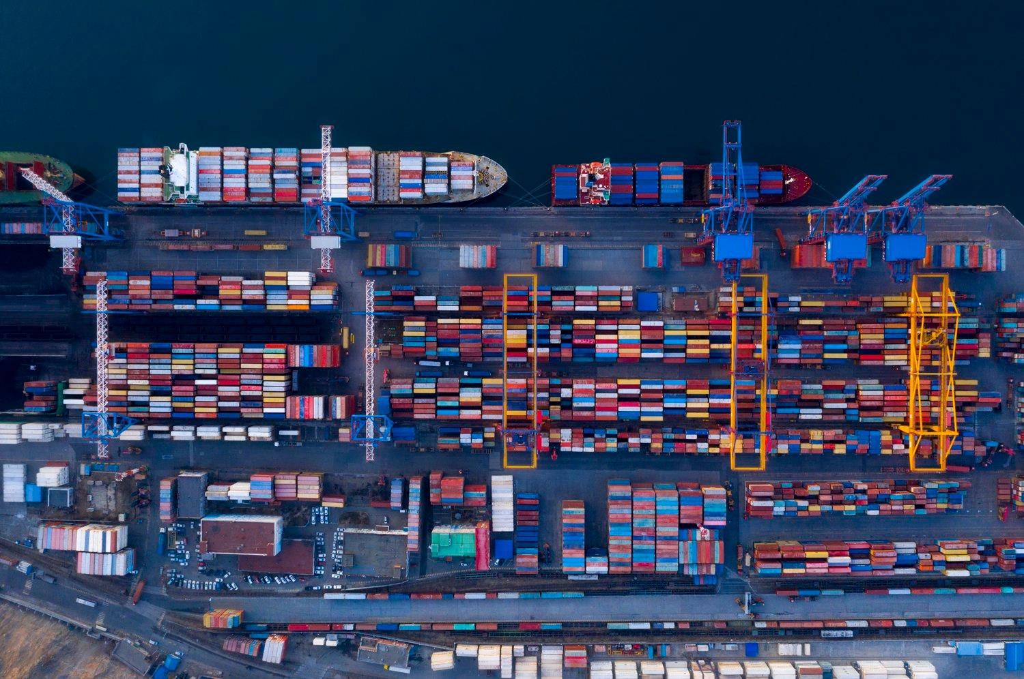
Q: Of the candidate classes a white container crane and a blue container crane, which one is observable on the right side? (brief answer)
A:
blue container crane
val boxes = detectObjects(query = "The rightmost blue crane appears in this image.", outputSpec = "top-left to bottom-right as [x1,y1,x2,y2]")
[855,174,955,283]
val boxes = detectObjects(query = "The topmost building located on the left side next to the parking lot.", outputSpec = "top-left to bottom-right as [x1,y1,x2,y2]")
[177,469,213,519]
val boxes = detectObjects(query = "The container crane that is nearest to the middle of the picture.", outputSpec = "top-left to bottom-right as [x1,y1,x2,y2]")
[495,273,546,471]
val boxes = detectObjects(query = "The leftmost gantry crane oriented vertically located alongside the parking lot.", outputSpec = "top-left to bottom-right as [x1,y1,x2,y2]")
[79,280,152,459]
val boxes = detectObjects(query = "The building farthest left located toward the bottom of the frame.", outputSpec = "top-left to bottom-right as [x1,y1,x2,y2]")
[47,486,76,508]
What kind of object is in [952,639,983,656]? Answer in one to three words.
shed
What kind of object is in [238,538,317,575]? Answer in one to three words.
building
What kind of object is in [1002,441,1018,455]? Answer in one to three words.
work vehicle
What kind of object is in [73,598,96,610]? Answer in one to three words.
vehicle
